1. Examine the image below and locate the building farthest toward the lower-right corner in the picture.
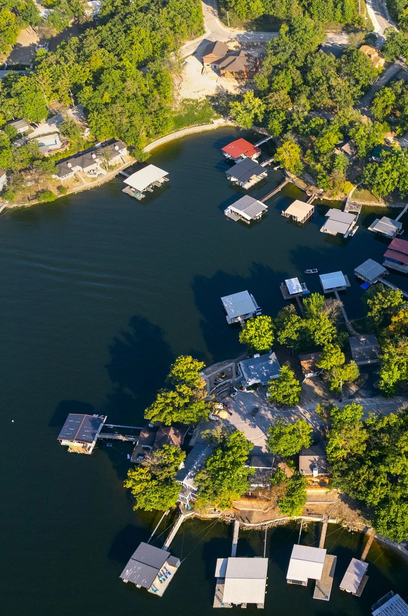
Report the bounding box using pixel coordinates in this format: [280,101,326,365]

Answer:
[299,447,331,478]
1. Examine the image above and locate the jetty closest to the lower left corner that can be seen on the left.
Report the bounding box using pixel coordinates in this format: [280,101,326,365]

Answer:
[120,543,182,596]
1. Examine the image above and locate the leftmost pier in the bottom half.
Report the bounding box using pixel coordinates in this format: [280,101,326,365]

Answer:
[57,414,110,454]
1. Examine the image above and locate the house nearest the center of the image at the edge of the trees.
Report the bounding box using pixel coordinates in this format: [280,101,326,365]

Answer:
[239,352,280,390]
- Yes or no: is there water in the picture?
Yes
